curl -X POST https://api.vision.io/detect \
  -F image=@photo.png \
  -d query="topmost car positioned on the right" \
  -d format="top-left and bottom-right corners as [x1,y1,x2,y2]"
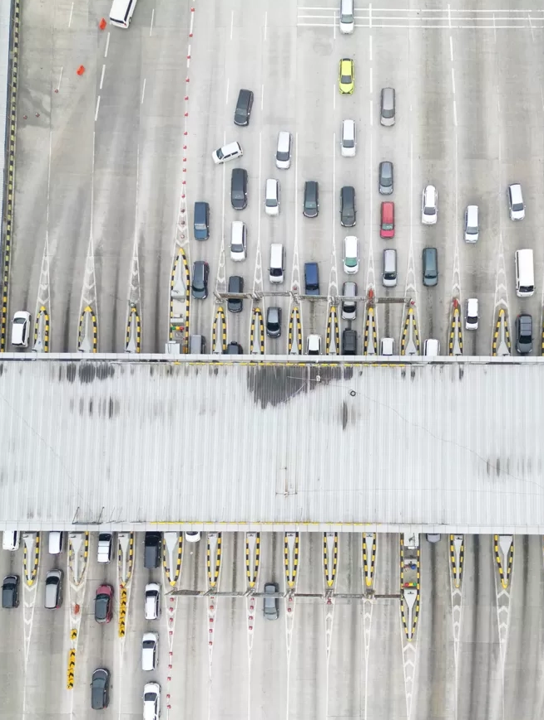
[338,0,355,32]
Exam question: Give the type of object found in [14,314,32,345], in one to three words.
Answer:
car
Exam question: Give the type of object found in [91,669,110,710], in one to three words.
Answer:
car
